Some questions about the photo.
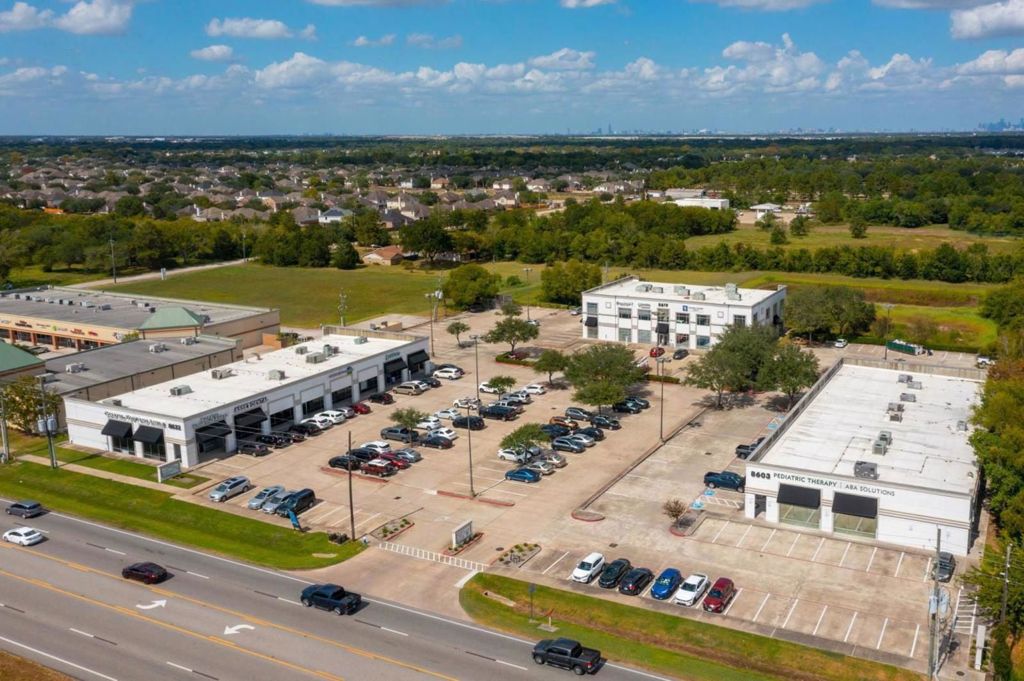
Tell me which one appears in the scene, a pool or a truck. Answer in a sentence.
Of the two, only a truck appears.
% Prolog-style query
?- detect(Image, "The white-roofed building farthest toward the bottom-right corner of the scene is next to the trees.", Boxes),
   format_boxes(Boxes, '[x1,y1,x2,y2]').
[745,357,999,557]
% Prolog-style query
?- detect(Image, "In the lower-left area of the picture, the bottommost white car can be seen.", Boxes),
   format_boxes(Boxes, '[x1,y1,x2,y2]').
[0,525,44,546]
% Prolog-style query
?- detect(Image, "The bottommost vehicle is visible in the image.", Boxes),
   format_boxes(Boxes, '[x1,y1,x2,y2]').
[529,637,603,676]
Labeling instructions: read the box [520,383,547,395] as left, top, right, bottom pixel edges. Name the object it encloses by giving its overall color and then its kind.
white vehicle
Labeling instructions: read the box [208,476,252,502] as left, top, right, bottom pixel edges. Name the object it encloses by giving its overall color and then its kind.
gray car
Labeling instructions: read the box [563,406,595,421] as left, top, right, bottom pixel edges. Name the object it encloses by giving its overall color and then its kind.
gray car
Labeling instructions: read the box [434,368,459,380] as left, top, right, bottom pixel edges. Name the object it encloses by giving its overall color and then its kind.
white vehicle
